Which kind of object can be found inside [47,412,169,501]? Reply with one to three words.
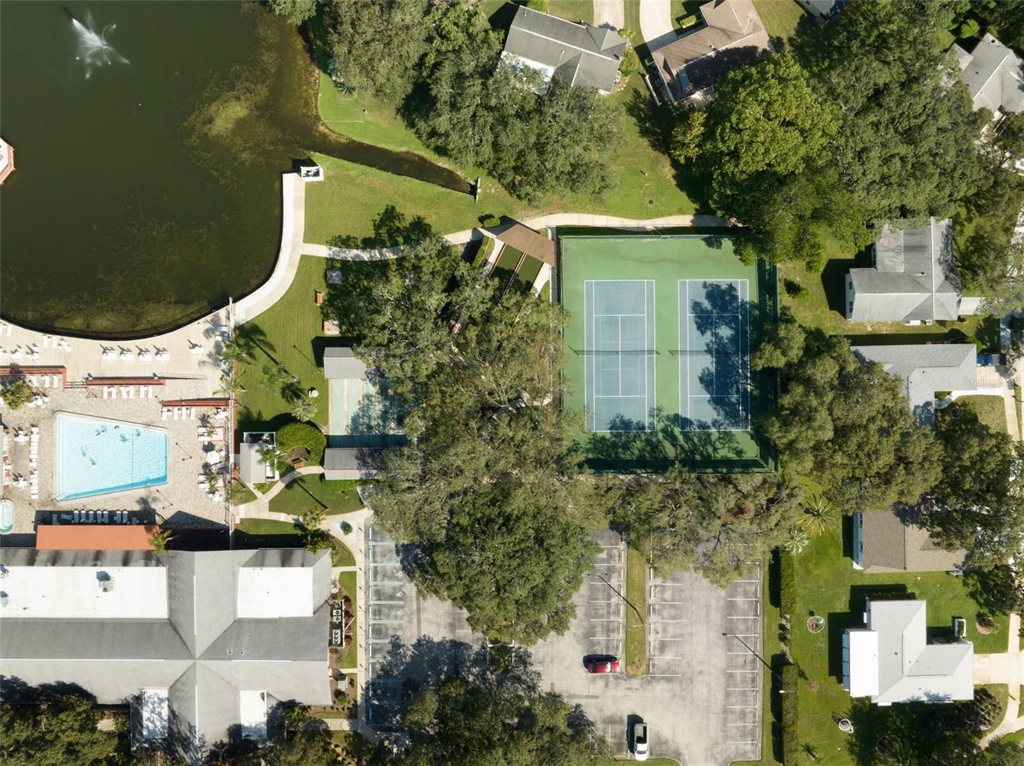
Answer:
swimming pool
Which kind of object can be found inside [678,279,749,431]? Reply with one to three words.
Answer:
tennis court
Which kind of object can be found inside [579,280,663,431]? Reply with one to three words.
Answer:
tennis court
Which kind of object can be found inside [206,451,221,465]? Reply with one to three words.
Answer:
umbrella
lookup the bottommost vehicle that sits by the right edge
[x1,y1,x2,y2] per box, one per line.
[976,352,1012,368]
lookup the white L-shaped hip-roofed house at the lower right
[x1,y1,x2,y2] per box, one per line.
[844,598,973,703]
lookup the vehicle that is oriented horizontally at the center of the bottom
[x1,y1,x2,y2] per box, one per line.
[588,659,619,674]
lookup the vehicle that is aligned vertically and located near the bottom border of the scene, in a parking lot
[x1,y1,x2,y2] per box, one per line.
[633,721,649,761]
